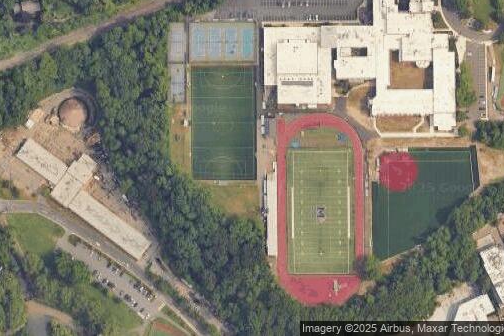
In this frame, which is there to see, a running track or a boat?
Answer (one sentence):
This aerial view contains a running track.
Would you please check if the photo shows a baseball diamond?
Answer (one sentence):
Yes, the picture does show a baseball diamond.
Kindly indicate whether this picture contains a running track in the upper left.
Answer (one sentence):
No, looking in the upper left, there is no running track.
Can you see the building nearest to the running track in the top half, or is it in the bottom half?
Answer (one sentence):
The top half of the photo is where the building nearest to the running track is.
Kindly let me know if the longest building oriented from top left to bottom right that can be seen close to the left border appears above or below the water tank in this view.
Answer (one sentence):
In the image, the longest building oriented from top left to bottom right that can be seen close to the left border sits below the water tank.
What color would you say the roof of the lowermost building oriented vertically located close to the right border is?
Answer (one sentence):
The roof of the lowermost building oriented vertically located close to the right border is white.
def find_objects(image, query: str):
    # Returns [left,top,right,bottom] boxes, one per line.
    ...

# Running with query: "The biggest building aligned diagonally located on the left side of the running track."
[16,139,151,261]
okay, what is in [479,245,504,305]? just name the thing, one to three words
building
